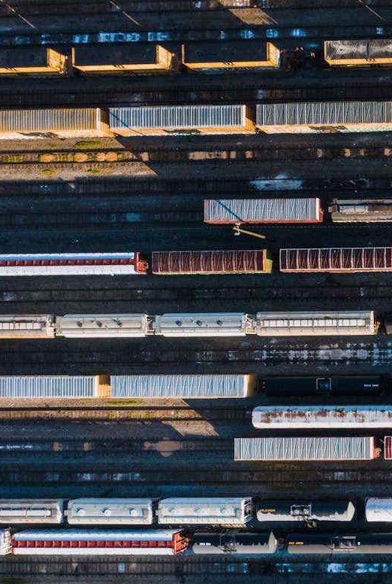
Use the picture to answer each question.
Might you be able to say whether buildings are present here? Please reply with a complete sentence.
No, the scene contains no building.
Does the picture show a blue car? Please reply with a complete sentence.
No, there appears to be no blue car in this shot.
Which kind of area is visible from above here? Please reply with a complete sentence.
The area seen from above is a rail yard.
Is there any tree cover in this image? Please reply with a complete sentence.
No, the scene doesn't show any tree cover.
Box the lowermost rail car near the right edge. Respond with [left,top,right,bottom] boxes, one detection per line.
[286,526,392,555]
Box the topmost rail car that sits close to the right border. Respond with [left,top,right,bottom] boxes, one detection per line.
[256,101,392,134]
